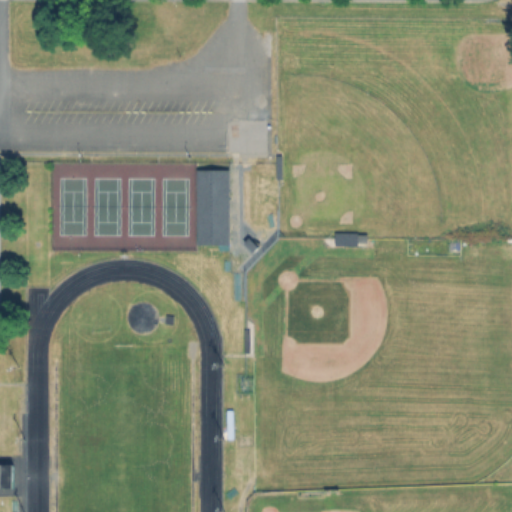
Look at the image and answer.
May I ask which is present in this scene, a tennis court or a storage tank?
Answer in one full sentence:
Of the two, only a tennis court appears.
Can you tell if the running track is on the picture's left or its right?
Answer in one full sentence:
The running track is on the left side of the image.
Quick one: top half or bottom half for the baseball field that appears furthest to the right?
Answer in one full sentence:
Seen from above, the baseball field that appears furthest to the right lies in the top half of the view.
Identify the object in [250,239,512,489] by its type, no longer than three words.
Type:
baseball field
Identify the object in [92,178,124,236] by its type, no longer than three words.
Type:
tennis court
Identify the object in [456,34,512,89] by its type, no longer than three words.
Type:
baseball field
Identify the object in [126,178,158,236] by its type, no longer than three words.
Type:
tennis court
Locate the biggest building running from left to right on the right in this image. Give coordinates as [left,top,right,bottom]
[335,234,368,247]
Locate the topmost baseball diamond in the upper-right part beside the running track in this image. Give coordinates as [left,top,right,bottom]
[279,20,512,237]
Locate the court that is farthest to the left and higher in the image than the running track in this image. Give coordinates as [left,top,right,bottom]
[58,178,90,236]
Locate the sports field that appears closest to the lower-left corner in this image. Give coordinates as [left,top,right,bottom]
[48,280,202,512]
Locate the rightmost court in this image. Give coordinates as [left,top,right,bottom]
[160,178,192,236]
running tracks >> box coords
[28,260,222,512]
